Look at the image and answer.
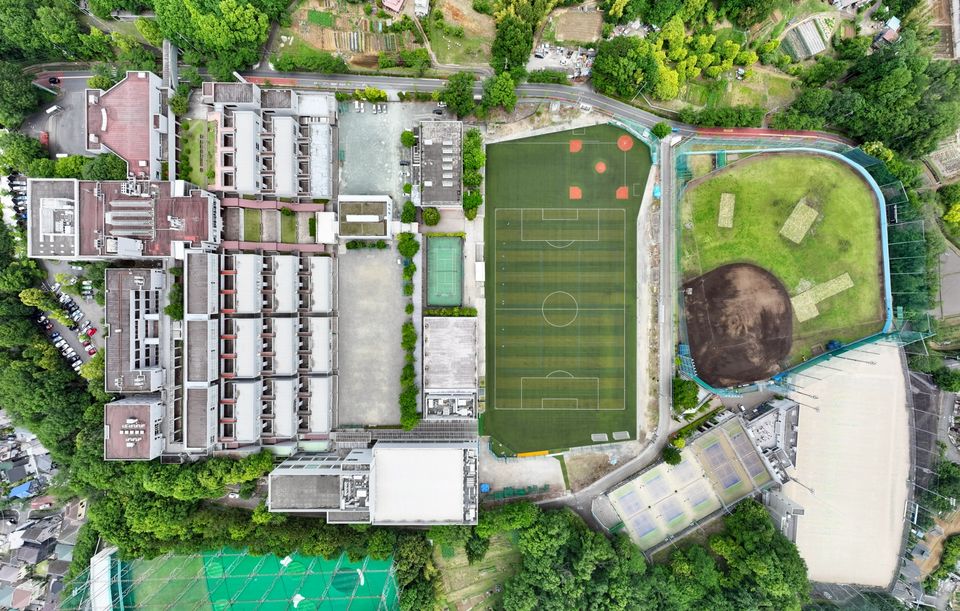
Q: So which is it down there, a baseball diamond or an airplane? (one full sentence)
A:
There is a baseball diamond in the scene.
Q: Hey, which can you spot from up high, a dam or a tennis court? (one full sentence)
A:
I can see a tennis court in this picture.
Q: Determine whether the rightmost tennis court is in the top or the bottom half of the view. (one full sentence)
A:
The bottom half of the photo is where the rightmost tennis court is.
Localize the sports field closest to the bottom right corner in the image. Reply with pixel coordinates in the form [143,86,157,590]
[773,343,912,589]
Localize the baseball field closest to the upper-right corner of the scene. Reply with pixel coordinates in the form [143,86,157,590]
[683,155,886,389]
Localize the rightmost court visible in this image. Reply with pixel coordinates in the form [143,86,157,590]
[693,417,772,503]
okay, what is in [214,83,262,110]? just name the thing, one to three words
building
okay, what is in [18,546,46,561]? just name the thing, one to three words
house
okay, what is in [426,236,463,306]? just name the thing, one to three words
tennis court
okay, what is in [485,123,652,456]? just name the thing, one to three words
soccer field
